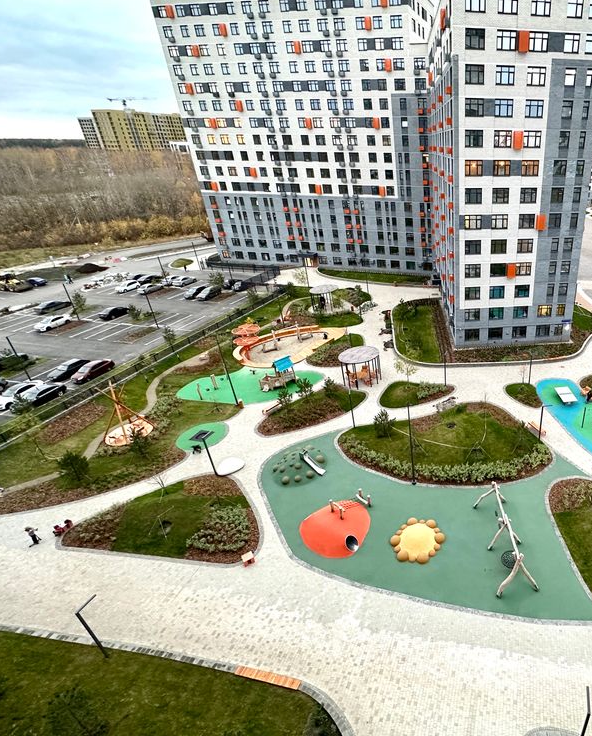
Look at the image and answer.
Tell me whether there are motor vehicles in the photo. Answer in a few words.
Yes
